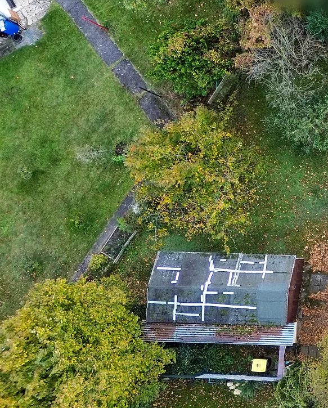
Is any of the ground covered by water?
No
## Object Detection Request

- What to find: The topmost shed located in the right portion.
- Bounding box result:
[146,251,305,326]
